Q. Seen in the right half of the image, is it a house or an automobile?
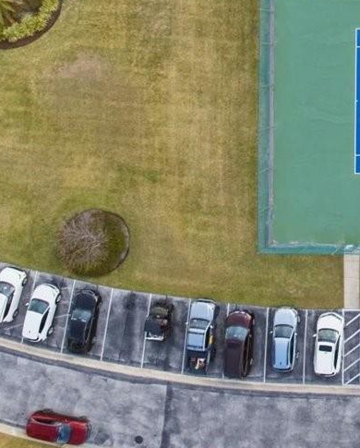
automobile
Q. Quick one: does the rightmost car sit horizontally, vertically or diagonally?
vertically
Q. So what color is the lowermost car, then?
red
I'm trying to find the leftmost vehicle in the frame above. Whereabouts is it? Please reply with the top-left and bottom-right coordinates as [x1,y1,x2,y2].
[0,264,29,325]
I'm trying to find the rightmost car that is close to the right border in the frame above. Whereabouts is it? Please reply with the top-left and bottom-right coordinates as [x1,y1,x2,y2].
[314,311,345,377]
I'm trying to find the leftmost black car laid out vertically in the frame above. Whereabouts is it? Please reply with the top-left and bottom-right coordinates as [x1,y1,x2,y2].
[64,288,103,354]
